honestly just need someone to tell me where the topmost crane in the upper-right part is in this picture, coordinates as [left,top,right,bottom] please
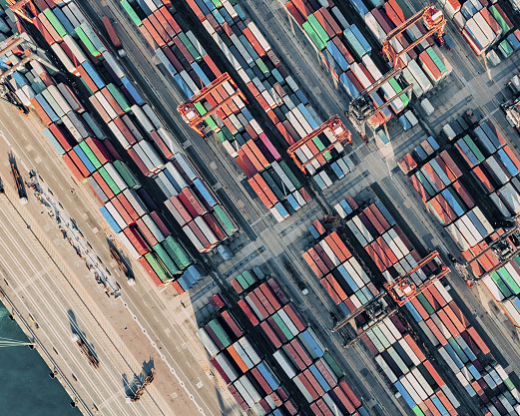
[378,1,451,80]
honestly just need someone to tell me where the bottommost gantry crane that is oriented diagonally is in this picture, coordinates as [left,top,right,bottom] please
[324,283,404,353]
